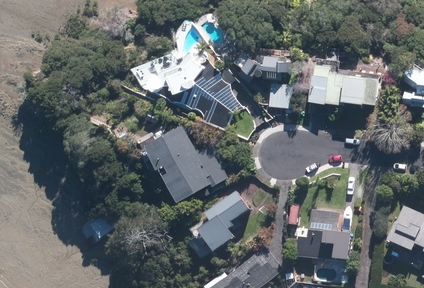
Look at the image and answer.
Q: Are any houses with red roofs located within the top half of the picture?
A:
No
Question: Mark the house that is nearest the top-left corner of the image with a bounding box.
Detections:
[131,51,206,94]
